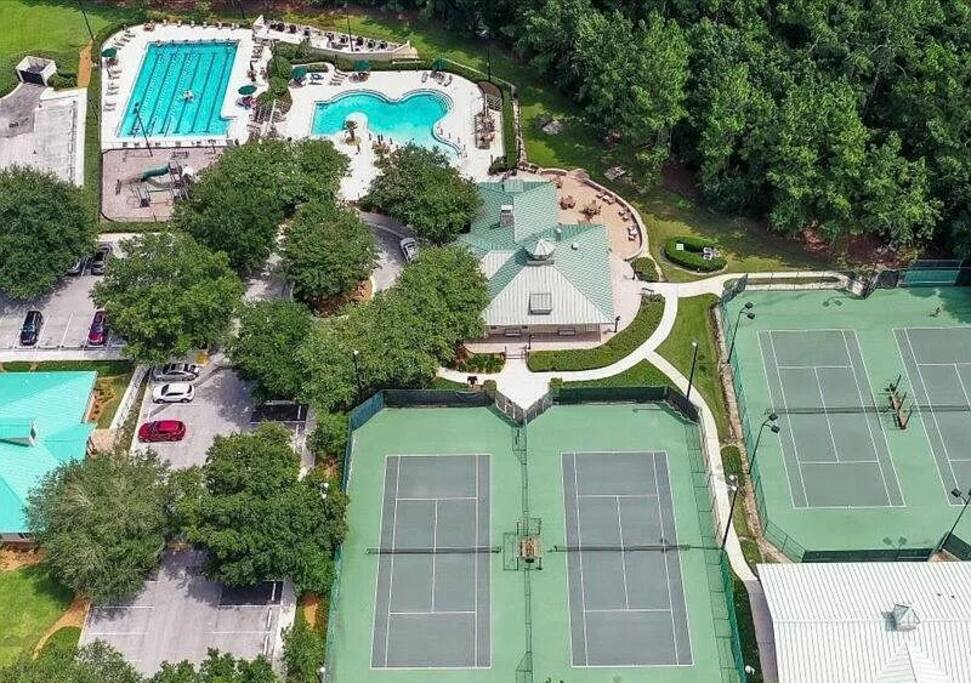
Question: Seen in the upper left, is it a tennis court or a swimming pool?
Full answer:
The feature located in the upper left is a swimming pool.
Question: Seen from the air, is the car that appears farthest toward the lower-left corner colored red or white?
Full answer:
From above, the car that appears farthest toward the lower-left corner appears red.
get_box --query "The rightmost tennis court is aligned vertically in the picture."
[875,284,971,553]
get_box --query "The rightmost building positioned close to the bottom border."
[757,561,971,683]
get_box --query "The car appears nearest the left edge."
[16,307,40,343]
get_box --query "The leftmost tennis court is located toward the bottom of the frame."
[324,407,525,683]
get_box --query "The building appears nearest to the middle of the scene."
[461,175,615,342]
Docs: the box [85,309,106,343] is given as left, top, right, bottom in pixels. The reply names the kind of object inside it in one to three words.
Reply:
car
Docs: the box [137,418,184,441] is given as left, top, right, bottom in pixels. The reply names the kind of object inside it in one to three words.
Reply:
car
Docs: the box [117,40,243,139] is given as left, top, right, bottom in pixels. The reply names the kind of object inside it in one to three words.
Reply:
swimming pool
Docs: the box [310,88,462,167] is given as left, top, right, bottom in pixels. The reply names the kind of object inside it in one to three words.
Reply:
swimming pool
